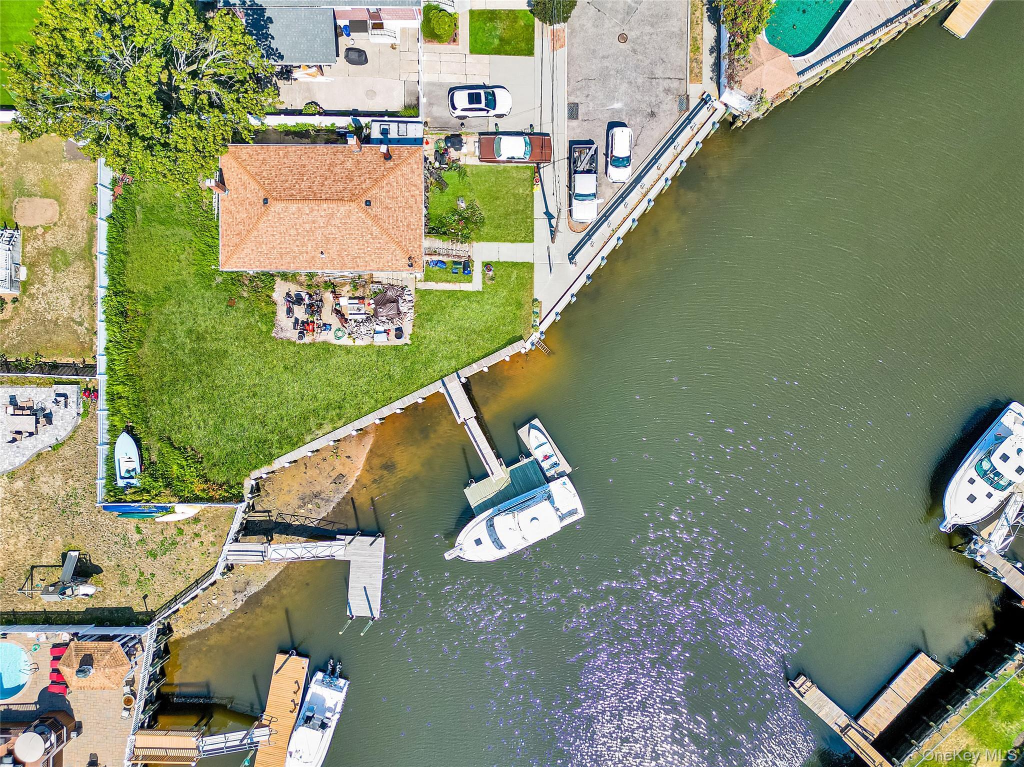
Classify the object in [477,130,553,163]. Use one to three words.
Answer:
car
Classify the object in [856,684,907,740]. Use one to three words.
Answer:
pier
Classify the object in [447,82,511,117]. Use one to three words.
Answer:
car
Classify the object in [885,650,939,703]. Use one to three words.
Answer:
pier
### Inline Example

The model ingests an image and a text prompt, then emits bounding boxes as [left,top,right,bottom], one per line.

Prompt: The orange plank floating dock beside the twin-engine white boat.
[254,653,310,767]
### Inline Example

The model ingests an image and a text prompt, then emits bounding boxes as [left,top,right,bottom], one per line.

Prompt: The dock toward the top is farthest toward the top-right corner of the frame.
[940,0,991,40]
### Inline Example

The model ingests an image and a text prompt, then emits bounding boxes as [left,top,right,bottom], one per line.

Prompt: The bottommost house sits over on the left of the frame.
[200,135,426,274]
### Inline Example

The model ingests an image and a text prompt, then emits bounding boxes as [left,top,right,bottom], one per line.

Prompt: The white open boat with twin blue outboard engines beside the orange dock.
[288,654,349,767]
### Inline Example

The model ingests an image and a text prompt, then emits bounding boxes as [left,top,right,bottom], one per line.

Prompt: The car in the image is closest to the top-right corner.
[607,119,638,183]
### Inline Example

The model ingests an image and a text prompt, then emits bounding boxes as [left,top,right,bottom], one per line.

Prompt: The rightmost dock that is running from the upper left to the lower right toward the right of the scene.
[980,553,1024,599]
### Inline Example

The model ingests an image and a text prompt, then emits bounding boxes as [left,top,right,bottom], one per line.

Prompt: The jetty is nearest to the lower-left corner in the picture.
[118,718,209,766]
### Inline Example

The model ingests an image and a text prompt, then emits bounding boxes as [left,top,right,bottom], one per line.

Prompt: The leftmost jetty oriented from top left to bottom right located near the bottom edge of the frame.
[788,674,861,737]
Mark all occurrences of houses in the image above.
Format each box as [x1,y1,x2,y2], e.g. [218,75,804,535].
[200,135,426,274]
[211,0,423,66]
